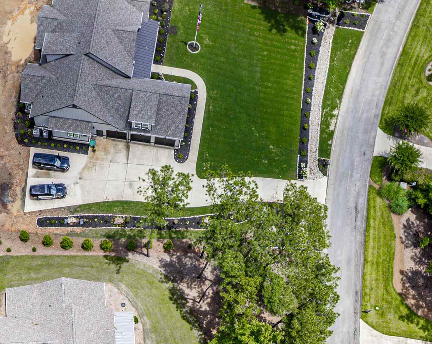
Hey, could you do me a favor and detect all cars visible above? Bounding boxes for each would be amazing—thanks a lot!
[37,148,74,170]
[31,183,65,201]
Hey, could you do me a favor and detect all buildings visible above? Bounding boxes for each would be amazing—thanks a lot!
[20,0,191,147]
[0,278,136,344]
